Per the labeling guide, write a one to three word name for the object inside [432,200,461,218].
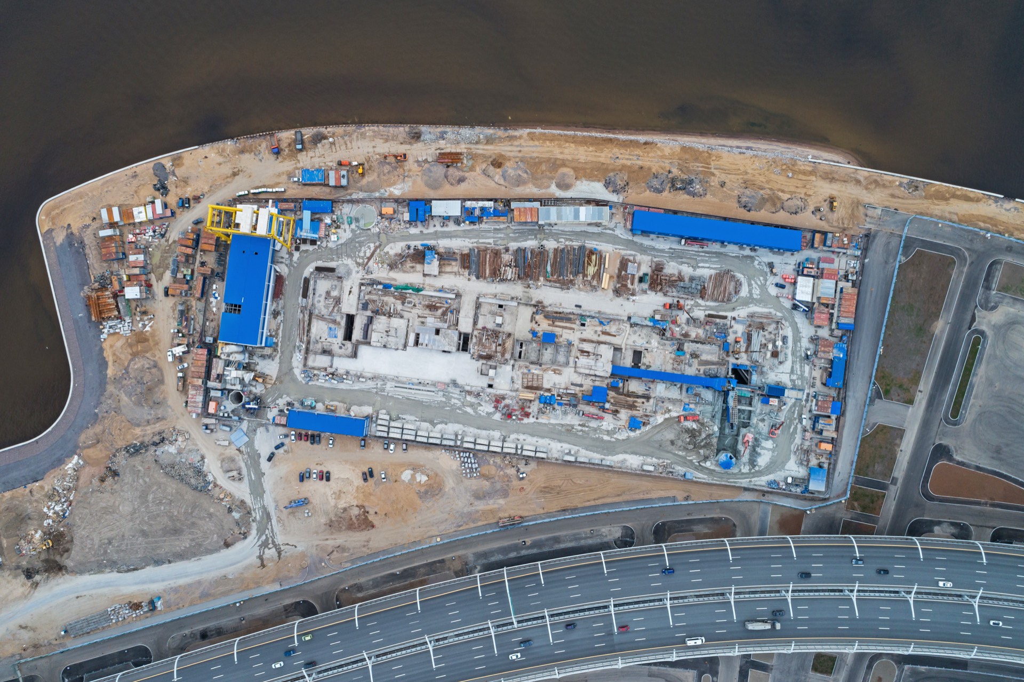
shed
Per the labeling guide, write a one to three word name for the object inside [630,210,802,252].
shed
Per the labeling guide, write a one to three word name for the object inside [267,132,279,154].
vehicle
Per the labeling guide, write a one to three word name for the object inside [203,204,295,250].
container crane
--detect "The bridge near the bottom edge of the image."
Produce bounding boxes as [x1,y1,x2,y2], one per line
[84,533,1024,682]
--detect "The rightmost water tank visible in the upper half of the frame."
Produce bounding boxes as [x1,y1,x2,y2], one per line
[353,204,378,229]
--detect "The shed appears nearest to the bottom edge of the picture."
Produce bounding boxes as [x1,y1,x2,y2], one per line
[805,466,827,491]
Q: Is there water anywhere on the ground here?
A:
Yes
